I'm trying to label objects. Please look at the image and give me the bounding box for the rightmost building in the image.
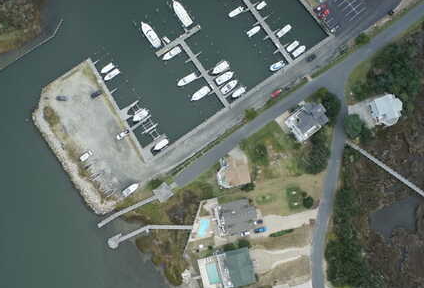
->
[365,95,403,129]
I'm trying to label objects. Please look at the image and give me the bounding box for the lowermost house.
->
[214,247,257,288]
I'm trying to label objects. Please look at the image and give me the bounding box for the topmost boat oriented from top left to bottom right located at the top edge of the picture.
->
[172,0,193,28]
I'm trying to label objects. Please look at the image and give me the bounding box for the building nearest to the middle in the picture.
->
[216,155,250,189]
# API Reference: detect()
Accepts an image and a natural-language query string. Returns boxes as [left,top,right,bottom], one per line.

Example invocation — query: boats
[214,72,235,86]
[291,46,306,58]
[191,85,212,100]
[132,107,150,122]
[141,21,161,49]
[231,85,247,98]
[177,72,198,85]
[172,0,193,28]
[209,61,231,76]
[104,68,121,80]
[228,6,246,17]
[101,62,115,73]
[246,26,261,38]
[270,60,286,70]
[152,137,170,150]
[287,39,300,52]
[162,46,182,59]
[220,80,238,95]
[275,25,291,39]
[256,0,267,9]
